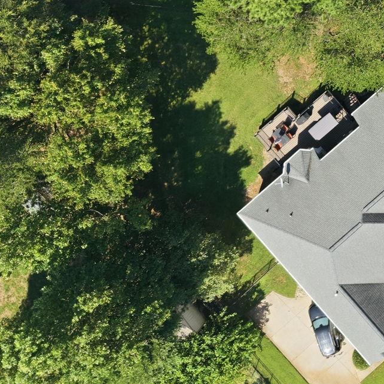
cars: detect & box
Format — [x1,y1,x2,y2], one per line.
[305,304,339,360]
[251,292,368,384]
